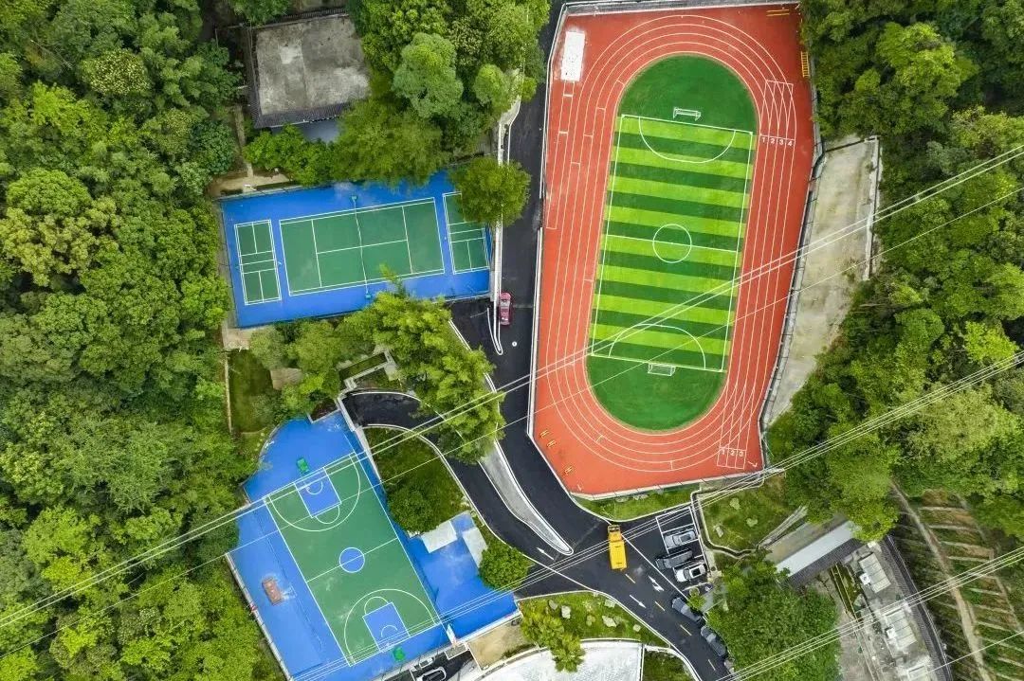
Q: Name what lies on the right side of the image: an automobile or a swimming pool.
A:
automobile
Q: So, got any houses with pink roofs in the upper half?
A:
No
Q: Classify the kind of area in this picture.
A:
sports ground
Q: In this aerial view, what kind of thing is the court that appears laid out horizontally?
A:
tennis court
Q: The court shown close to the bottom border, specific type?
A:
basketball court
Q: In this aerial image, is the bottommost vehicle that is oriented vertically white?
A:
No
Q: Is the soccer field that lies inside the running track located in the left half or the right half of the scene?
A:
right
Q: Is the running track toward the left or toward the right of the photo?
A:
right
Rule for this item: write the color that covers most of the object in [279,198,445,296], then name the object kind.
green tennis court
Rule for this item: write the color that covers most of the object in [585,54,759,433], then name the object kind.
green soccer field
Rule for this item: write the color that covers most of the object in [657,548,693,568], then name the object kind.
gray car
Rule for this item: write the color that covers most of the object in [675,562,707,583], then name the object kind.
white car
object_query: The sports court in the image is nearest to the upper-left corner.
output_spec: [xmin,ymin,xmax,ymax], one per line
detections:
[234,220,282,305]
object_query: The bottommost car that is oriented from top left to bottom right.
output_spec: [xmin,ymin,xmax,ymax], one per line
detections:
[699,626,727,656]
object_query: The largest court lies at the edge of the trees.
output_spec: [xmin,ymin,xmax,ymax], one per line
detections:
[264,452,442,667]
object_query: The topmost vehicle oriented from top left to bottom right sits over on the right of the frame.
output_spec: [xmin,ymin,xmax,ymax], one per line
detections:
[672,597,703,622]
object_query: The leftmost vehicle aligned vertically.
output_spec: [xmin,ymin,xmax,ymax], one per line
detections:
[498,293,512,325]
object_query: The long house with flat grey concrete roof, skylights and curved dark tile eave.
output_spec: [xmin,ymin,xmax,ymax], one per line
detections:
[838,528,951,681]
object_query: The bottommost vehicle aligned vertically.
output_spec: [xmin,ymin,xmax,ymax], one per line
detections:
[607,528,627,570]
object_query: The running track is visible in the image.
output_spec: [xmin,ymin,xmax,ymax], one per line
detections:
[532,3,814,499]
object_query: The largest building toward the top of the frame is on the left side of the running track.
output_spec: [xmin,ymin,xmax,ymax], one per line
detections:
[248,8,379,129]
